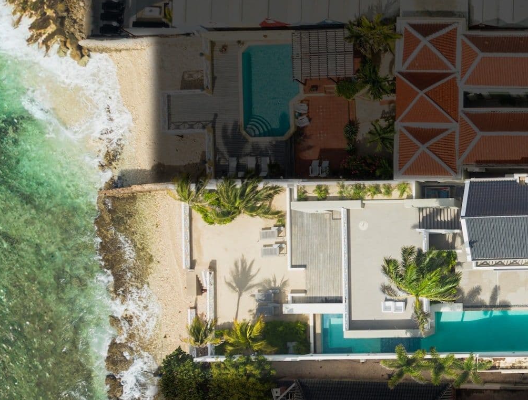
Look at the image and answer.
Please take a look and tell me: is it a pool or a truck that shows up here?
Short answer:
pool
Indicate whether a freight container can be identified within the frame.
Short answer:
No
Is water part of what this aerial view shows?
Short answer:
Yes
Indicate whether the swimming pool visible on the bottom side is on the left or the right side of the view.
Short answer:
right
